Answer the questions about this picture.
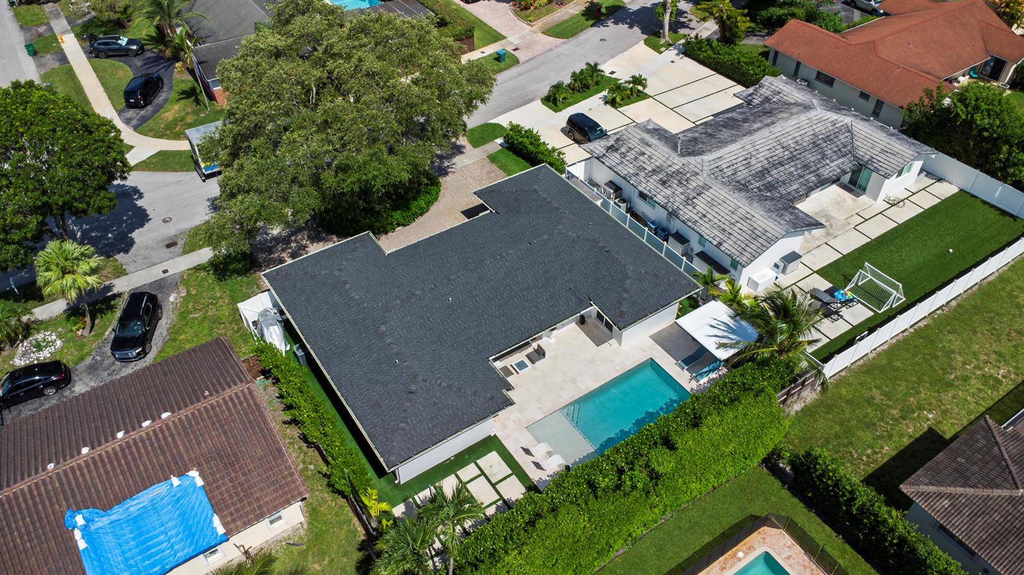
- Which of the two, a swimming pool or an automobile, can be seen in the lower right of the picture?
swimming pool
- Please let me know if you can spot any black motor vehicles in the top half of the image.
Yes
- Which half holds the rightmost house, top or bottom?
bottom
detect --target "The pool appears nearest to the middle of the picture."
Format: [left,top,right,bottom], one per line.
[517,351,696,483]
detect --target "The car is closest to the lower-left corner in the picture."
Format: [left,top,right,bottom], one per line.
[0,357,68,410]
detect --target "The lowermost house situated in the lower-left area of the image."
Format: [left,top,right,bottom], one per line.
[0,335,313,575]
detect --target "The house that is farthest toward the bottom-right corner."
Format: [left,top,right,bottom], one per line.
[897,409,1024,575]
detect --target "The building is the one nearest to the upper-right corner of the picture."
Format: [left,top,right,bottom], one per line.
[759,0,1024,130]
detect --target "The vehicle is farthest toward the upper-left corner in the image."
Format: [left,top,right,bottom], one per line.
[77,30,144,57]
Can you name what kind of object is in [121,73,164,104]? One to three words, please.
car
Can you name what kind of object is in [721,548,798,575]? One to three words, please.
swimming pool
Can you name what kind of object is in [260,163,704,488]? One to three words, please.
house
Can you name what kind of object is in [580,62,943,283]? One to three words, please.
house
